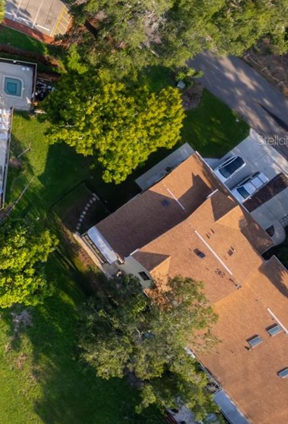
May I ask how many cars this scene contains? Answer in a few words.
two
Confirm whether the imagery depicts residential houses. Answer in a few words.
Yes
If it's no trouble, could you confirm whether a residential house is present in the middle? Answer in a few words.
Yes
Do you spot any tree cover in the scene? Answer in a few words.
Yes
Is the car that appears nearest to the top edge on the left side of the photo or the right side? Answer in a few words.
right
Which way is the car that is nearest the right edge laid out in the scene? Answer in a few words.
diagonally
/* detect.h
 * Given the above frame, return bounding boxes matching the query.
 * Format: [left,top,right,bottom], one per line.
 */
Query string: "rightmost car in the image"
[235,171,274,204]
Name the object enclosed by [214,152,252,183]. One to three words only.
car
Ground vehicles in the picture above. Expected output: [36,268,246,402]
[235,171,274,204]
[214,152,252,183]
